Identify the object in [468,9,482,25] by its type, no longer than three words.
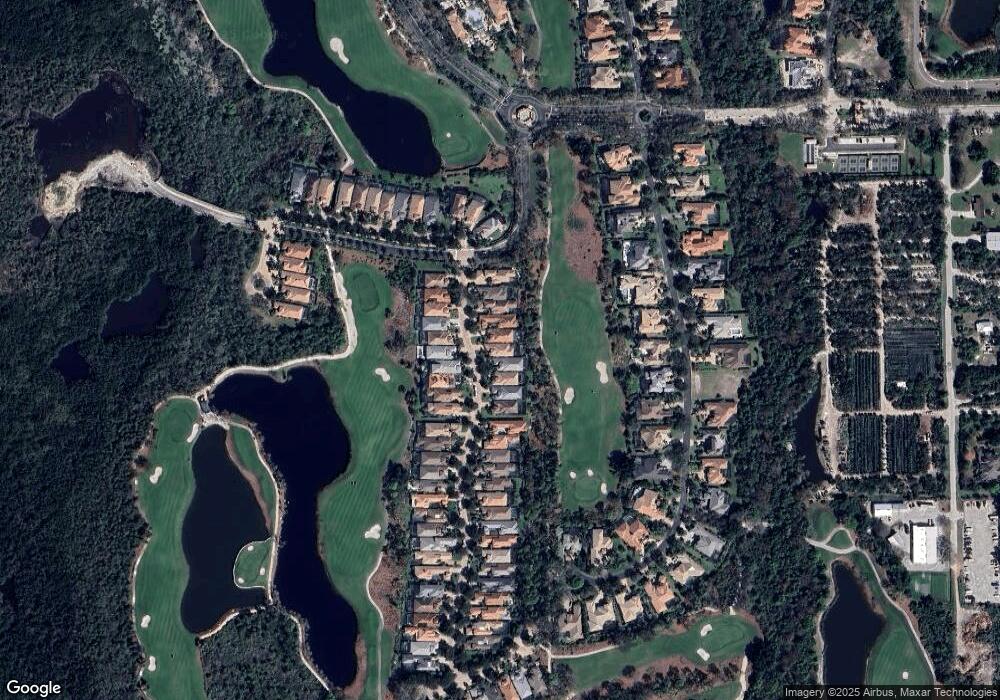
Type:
swimming pool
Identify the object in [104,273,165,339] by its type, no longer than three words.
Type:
pond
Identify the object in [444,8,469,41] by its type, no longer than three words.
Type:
building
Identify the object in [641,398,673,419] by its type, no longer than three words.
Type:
house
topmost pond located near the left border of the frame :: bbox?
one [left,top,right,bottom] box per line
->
[31,73,147,176]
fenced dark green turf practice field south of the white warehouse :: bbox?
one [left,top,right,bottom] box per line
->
[910,572,949,601]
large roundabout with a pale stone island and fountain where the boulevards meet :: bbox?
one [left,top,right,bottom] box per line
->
[504,94,546,136]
